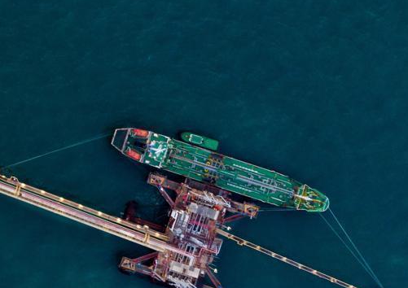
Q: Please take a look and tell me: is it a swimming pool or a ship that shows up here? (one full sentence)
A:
Of the two, only a ship appears.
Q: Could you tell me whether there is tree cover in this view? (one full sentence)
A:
No, no tree cover is visible.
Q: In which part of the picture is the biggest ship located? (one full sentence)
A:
You can find the biggest ship in the center area of the picture.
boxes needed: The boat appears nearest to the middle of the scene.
[180,131,219,150]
